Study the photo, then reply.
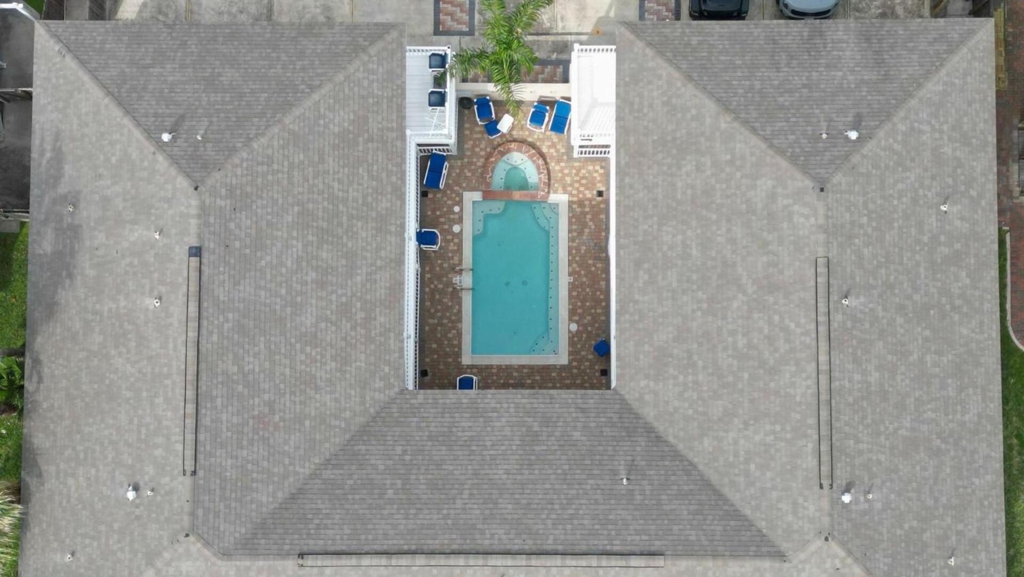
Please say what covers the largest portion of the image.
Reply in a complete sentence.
What you mostly see from above here is buildings.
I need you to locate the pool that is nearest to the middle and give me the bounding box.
[462,192,568,364]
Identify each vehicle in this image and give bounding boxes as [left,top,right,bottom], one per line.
[773,0,835,20]
[685,0,748,21]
